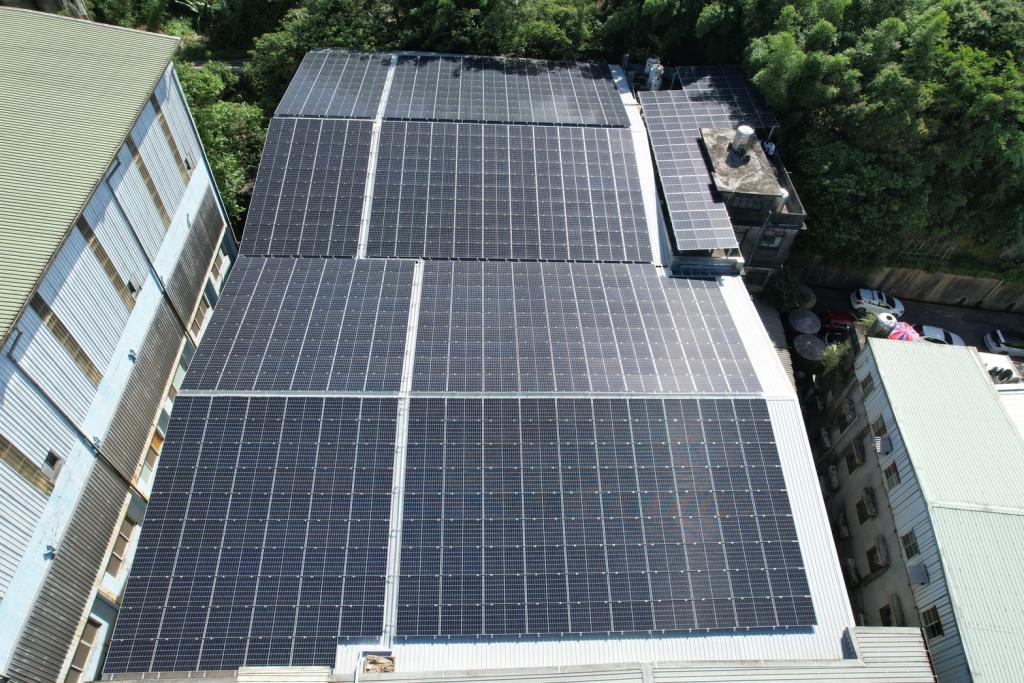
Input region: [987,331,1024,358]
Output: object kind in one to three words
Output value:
car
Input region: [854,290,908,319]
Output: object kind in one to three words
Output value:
car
